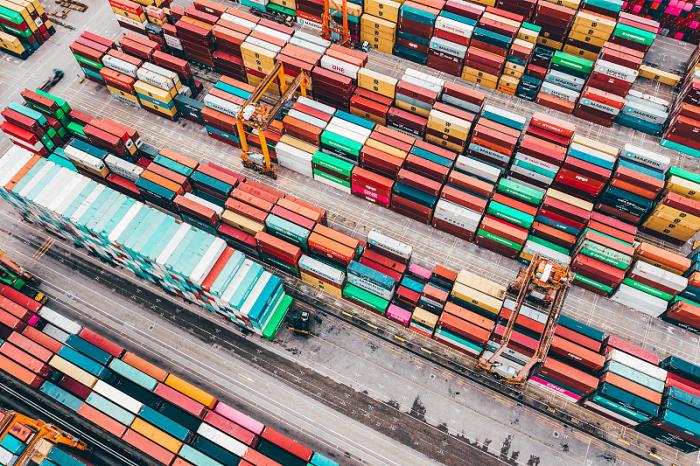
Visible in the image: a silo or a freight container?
freight container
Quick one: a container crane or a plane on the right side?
container crane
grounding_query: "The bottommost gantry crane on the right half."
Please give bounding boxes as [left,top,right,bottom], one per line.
[470,247,577,392]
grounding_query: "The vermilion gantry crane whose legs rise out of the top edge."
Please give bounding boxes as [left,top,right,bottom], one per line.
[319,0,355,46]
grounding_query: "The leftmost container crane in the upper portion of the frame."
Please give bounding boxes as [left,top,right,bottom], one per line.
[231,59,310,178]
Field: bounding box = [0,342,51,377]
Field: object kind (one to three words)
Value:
shipping container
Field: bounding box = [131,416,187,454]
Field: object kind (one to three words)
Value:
shipping container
